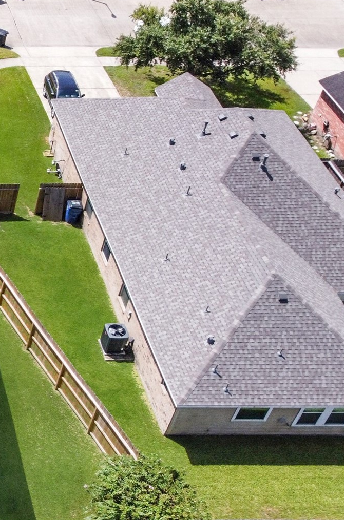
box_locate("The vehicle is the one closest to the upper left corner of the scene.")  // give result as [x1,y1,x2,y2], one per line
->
[40,59,84,99]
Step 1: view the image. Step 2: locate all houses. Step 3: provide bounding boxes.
[50,70,344,439]
[314,71,344,161]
